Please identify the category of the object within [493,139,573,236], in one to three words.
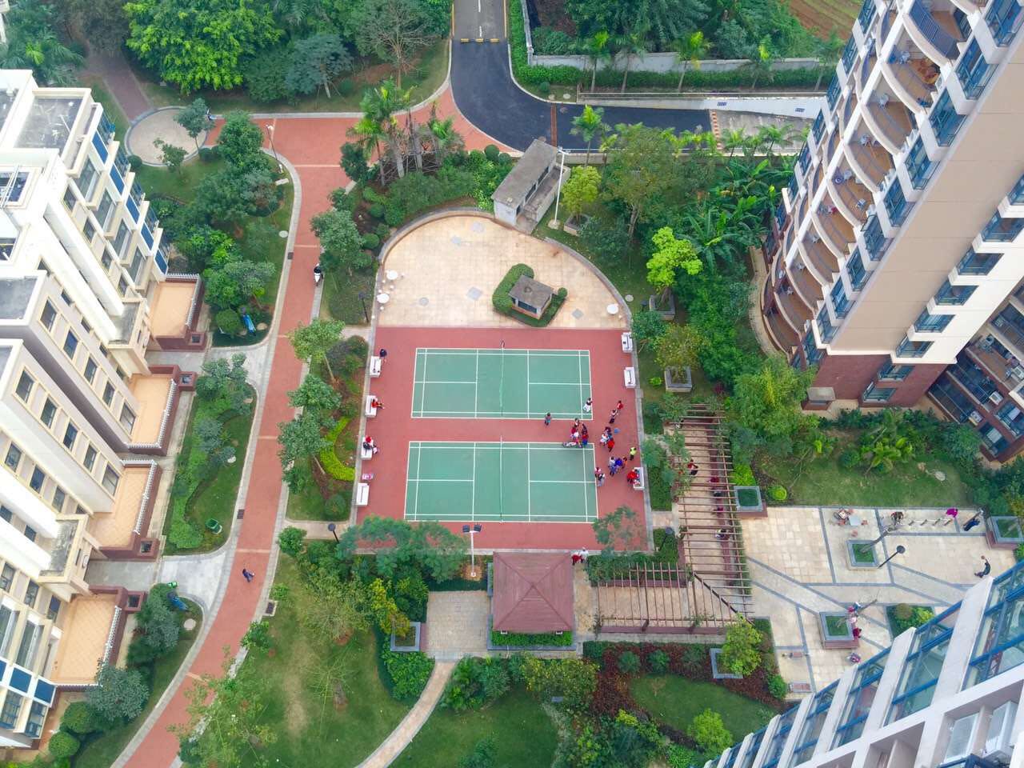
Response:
shed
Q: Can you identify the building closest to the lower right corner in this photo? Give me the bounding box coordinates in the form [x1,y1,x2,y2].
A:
[690,553,1024,768]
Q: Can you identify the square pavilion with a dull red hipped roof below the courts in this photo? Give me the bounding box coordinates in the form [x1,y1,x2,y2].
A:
[486,550,579,662]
